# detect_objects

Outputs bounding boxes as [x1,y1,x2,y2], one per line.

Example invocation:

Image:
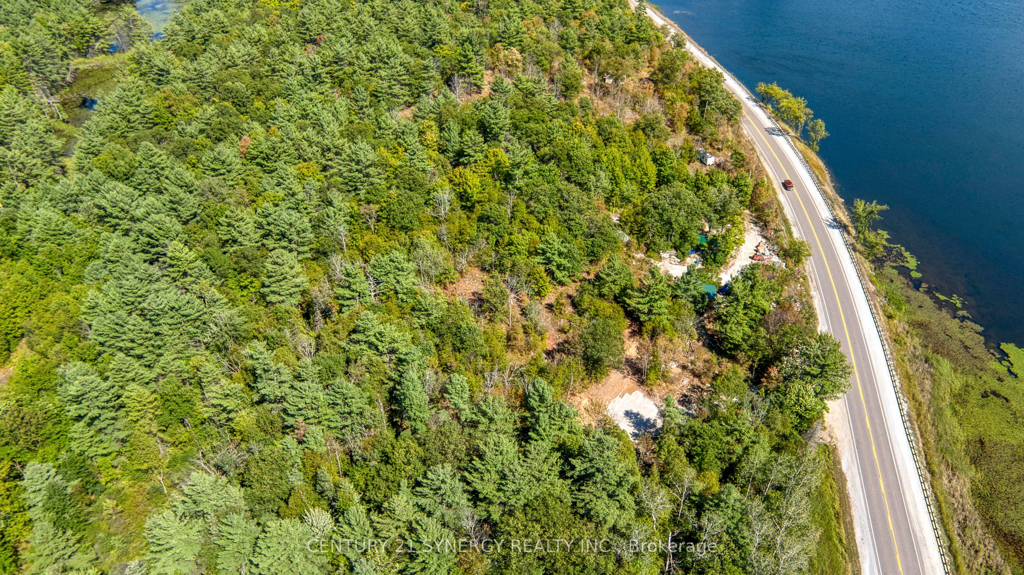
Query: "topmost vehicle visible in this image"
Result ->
[700,150,717,164]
